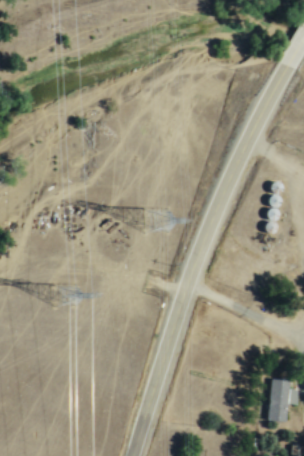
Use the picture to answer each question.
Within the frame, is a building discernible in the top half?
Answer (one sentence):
No, in the top half there is no building.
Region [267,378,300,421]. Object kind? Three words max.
house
